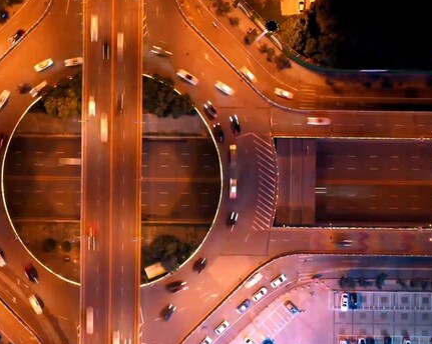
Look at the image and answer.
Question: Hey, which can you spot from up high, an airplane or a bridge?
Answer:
bridge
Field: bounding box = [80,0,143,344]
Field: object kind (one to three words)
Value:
overpass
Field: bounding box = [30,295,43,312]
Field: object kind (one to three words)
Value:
vehicle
